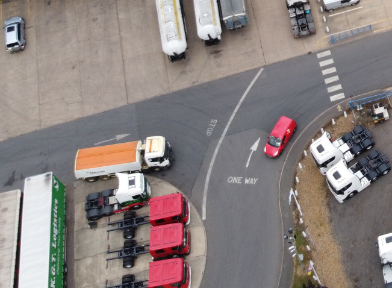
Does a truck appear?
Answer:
Yes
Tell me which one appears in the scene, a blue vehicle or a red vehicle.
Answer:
red vehicle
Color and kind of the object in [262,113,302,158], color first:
red van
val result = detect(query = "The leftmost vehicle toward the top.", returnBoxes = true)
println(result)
[2,16,26,53]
